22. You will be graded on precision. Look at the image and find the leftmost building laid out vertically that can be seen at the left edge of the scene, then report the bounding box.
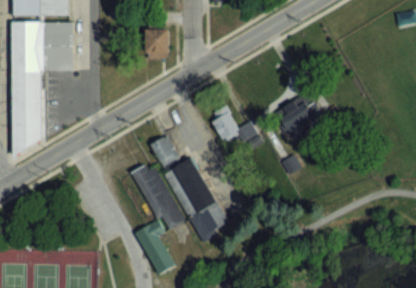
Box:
[10,20,44,156]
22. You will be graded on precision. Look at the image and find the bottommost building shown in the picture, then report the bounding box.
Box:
[133,219,175,275]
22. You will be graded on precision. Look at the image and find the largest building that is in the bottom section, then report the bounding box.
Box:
[166,159,227,240]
